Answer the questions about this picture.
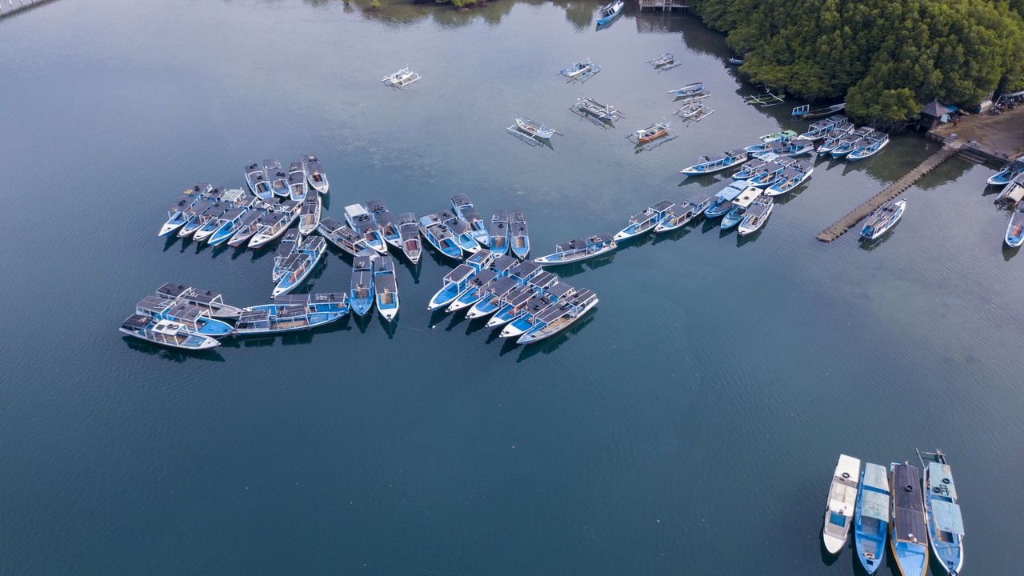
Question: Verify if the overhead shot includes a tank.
No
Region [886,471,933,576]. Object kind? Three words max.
boat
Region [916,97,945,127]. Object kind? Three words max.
shed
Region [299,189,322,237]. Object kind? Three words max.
boat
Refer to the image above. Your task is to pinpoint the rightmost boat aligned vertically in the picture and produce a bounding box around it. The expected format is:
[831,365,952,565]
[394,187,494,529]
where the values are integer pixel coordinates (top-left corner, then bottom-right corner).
[1004,200,1024,250]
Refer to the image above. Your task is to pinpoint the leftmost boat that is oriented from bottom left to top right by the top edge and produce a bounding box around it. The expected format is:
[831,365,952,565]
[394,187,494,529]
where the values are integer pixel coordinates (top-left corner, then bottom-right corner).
[597,0,625,26]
